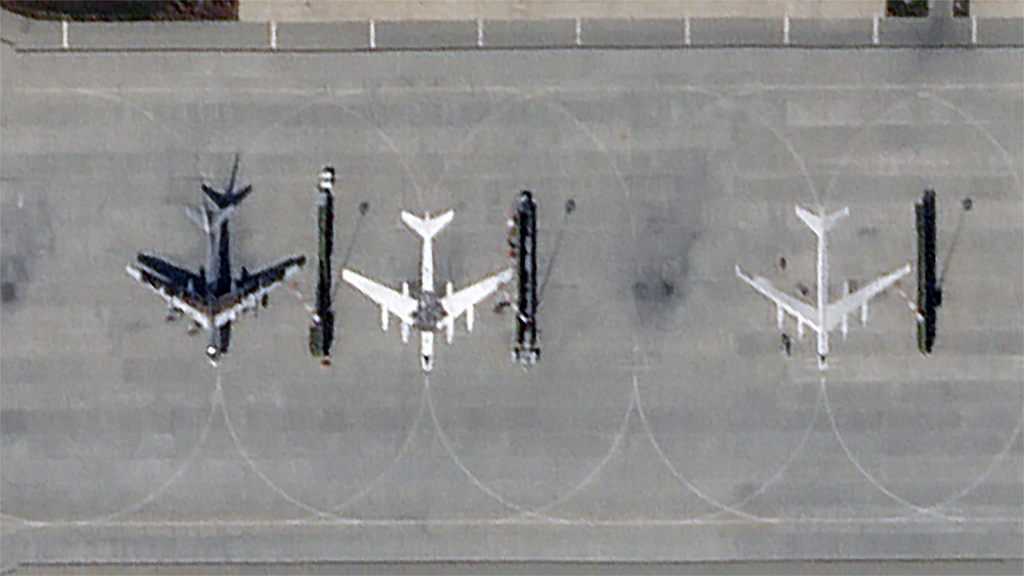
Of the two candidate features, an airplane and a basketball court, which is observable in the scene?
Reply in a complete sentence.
Of the two, only an airplane appears.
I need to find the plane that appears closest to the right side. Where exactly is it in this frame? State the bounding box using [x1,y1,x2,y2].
[736,205,910,368]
